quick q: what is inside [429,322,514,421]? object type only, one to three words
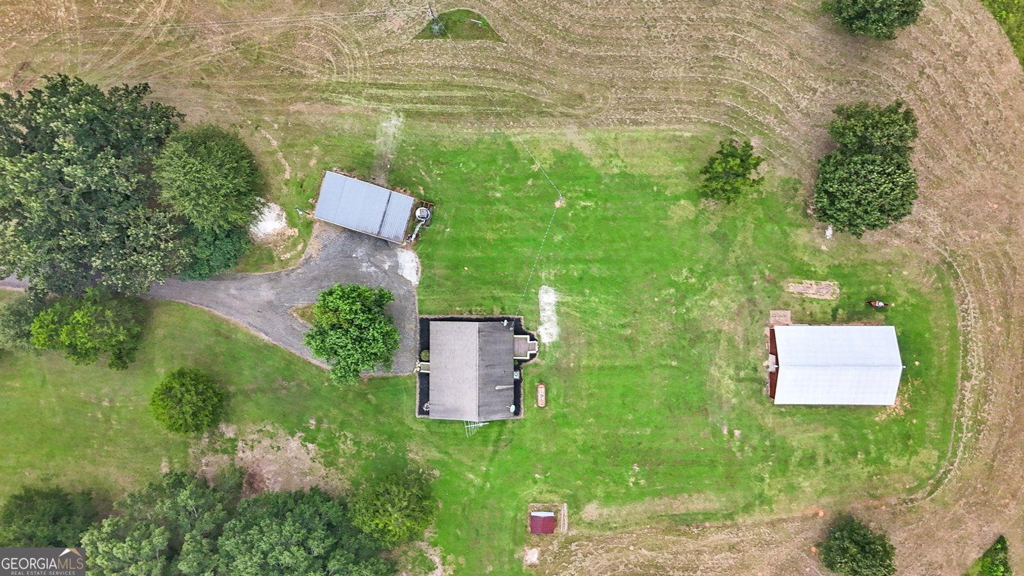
house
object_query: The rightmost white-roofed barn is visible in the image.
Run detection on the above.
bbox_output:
[769,324,908,405]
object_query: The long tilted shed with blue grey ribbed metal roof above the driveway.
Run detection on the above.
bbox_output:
[313,171,416,244]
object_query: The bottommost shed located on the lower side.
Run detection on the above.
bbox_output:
[531,512,554,535]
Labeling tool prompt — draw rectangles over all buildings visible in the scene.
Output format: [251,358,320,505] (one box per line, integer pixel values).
[769,324,908,405]
[429,322,514,421]
[313,171,416,244]
[531,512,554,535]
